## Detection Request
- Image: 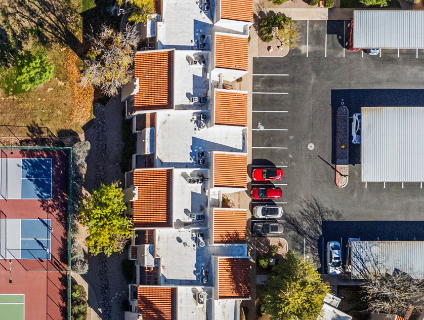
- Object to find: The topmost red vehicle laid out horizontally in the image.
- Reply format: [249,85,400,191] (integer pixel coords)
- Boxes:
[253,166,286,181]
